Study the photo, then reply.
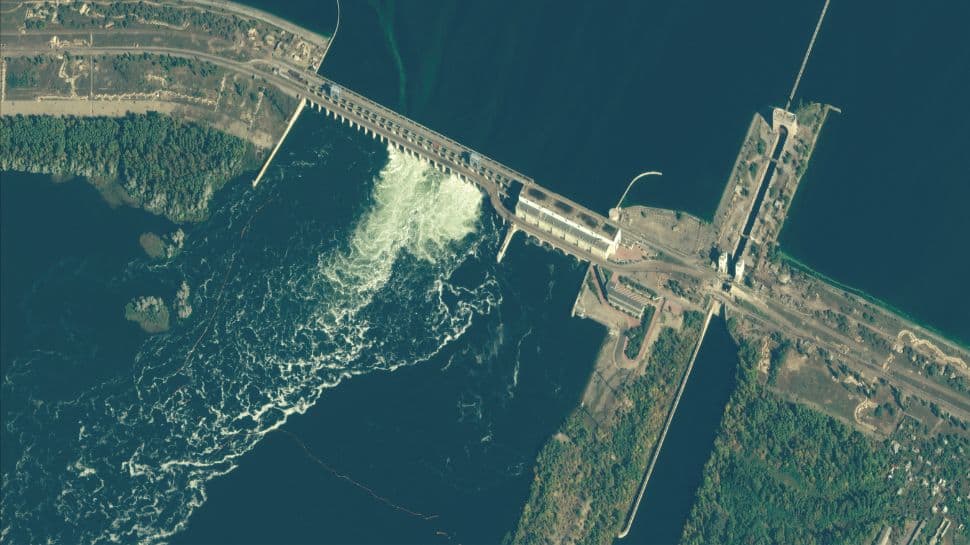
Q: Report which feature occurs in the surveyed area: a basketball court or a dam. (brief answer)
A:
dam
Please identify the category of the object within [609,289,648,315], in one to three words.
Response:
building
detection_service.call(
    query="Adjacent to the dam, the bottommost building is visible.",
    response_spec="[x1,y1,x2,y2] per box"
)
[512,181,633,260]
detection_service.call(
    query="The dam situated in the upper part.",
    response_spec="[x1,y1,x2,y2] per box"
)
[296,72,531,193]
